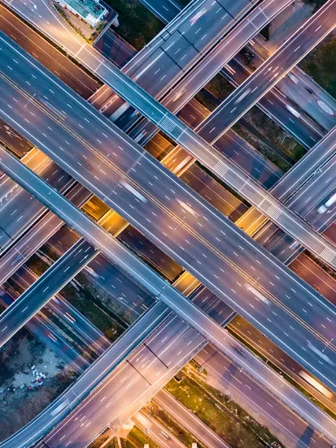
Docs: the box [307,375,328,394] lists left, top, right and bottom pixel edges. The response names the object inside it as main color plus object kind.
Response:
white vehicle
